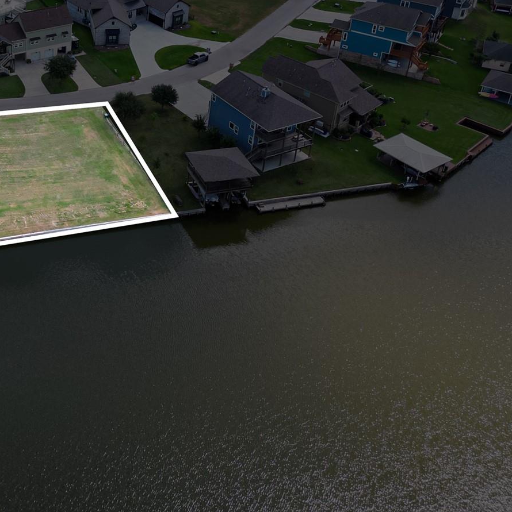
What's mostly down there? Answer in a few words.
water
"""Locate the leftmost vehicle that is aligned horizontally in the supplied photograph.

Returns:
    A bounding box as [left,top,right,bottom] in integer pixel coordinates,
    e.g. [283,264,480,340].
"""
[185,52,211,66]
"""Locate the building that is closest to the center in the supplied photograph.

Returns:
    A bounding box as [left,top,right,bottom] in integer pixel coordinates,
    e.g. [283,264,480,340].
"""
[179,146,265,217]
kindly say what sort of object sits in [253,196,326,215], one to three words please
pier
